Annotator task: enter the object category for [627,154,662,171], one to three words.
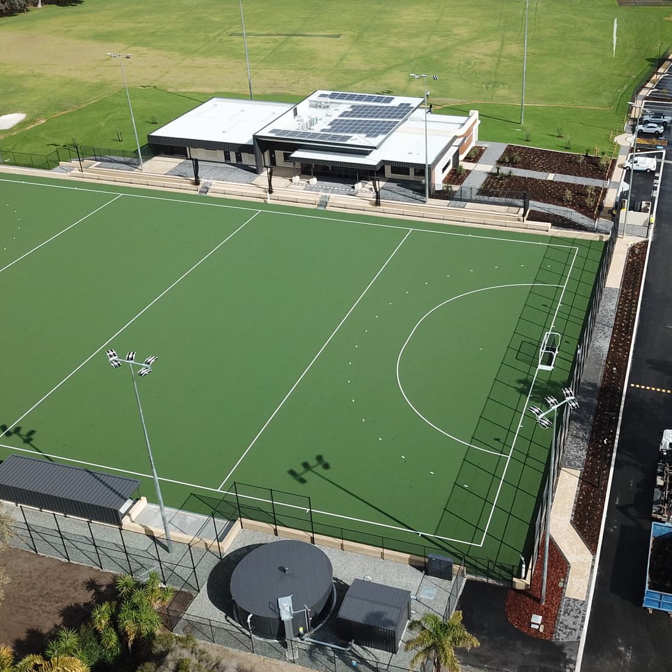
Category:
vehicle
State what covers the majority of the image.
grass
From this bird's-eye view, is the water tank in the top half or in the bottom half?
bottom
